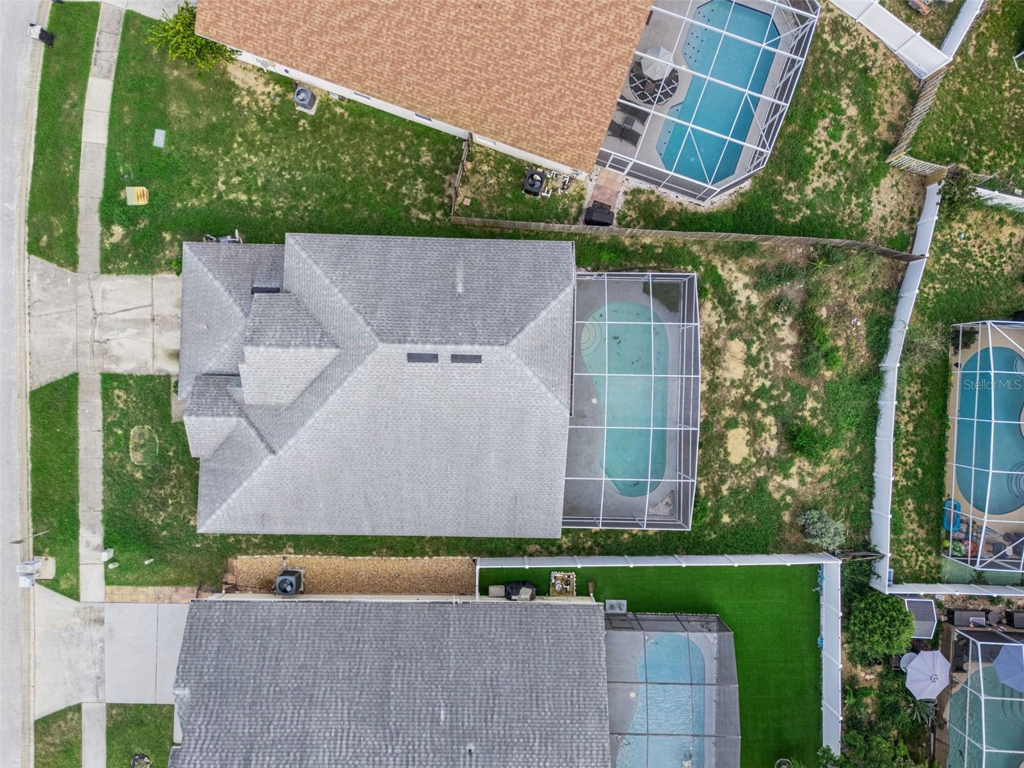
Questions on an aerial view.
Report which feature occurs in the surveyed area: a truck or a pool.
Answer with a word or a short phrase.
pool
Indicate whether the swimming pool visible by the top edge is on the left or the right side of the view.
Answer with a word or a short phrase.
right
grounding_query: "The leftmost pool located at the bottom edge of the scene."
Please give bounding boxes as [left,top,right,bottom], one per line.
[613,632,709,768]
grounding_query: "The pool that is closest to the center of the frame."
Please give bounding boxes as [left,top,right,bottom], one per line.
[577,298,673,500]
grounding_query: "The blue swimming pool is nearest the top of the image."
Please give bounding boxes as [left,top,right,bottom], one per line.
[653,0,784,187]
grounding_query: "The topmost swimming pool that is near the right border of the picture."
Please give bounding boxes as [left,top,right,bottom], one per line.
[988,343,1023,518]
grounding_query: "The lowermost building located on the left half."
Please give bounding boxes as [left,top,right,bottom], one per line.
[168,588,611,768]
